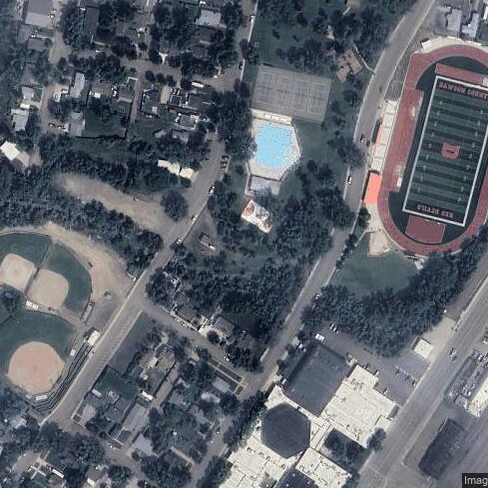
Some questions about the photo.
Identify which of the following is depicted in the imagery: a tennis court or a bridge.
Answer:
tennis court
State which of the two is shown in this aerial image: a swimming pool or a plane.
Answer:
swimming pool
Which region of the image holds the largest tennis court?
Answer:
top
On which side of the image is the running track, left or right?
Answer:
right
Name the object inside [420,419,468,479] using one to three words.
building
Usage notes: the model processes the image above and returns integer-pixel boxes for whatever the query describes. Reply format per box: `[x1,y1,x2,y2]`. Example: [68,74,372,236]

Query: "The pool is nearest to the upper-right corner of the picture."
[249,119,301,181]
